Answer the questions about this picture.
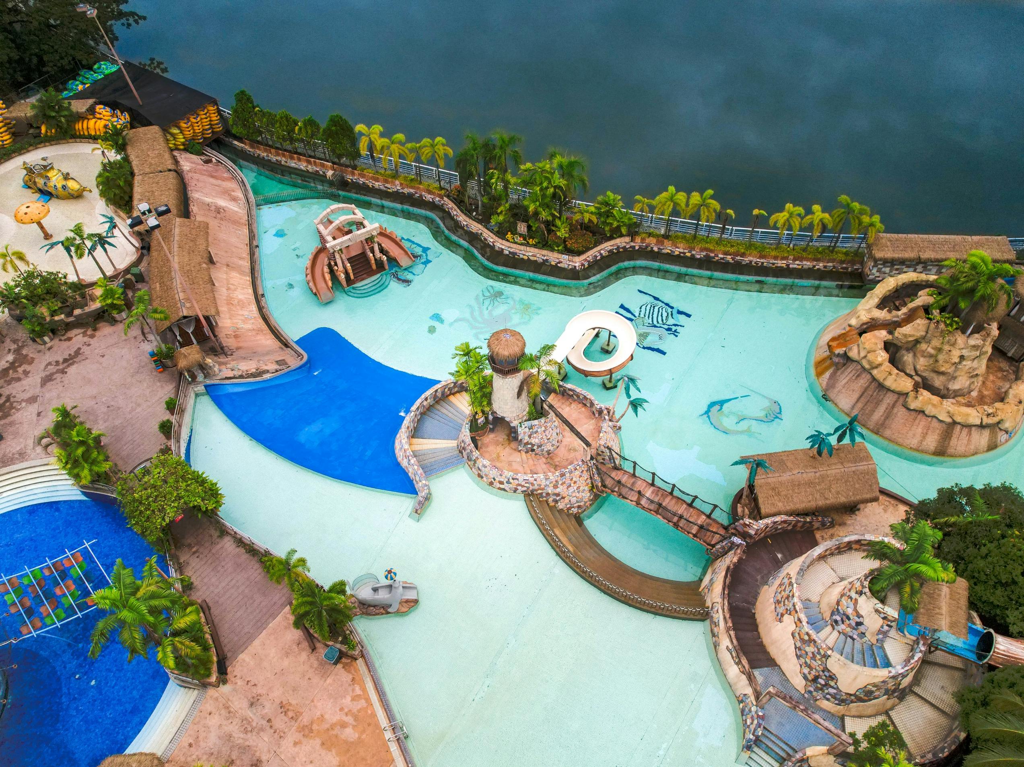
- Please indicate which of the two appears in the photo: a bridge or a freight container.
bridge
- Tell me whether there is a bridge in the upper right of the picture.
No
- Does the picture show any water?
Yes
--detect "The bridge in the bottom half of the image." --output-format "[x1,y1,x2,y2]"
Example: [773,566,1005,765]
[594,447,737,548]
